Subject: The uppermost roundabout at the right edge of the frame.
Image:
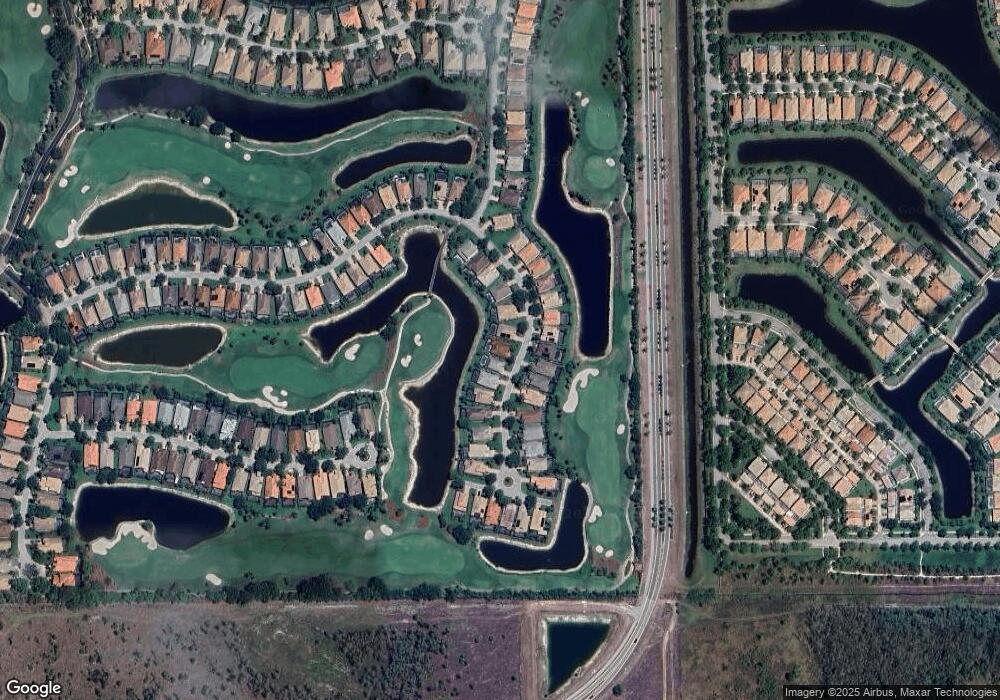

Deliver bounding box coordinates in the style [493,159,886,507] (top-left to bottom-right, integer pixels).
[972,169,1000,203]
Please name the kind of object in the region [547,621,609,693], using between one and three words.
pond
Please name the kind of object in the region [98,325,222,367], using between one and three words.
pond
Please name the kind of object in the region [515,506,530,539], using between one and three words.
house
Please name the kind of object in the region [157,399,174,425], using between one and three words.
house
